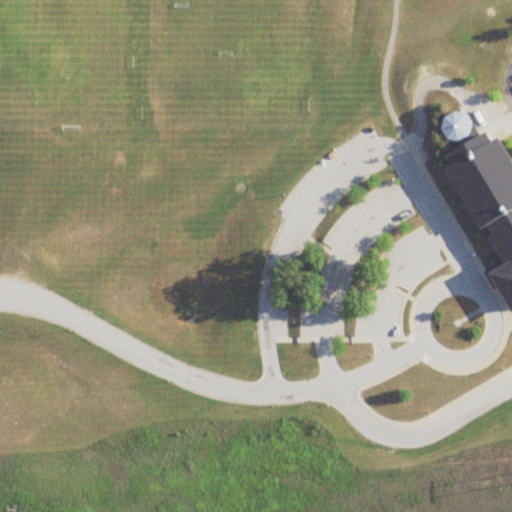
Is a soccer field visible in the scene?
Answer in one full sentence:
Yes, a soccer field appears in the view.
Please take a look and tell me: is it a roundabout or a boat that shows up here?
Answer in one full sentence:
I can see a roundabout in this picture.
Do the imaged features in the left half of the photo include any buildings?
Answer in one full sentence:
No, I see no building in the left half of the photo.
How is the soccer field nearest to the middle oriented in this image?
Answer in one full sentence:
The soccer field nearest to the middle has been laid out from left to right relative to the frame.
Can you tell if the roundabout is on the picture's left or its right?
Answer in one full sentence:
The roundabout sits on the right side.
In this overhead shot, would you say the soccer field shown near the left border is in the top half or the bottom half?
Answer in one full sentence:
The top half of the photo is where the soccer field shown near the left border is.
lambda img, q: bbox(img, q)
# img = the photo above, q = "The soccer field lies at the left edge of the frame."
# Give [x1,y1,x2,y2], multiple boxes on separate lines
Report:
[0,26,131,98]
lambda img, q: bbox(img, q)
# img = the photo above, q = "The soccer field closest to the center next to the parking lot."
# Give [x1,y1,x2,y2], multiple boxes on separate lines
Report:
[142,70,308,146]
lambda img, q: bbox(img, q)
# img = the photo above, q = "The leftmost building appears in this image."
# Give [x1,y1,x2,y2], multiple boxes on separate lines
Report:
[441,110,471,141]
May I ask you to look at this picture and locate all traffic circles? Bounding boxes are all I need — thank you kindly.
[411,278,509,374]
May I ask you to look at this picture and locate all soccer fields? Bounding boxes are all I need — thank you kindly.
[142,70,308,146]
[0,26,131,98]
